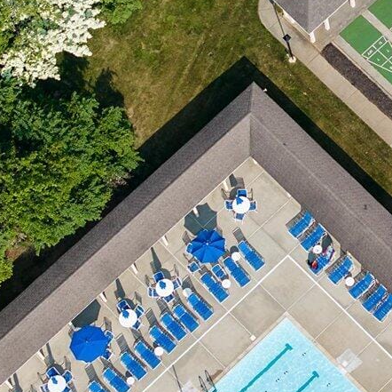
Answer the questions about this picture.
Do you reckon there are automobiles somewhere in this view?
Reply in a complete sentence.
No, no automobile is visible in the view.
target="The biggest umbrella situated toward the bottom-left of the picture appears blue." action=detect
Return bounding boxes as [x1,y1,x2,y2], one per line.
[69,324,107,363]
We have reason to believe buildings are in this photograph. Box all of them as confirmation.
[0,83,392,390]
[273,0,356,46]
